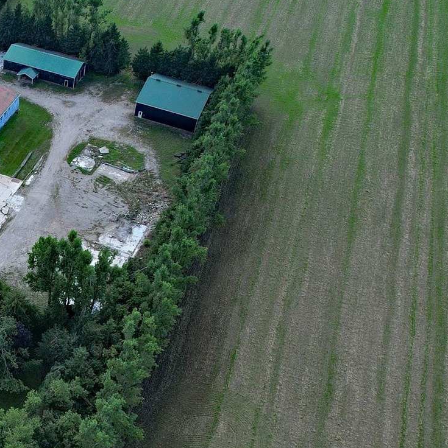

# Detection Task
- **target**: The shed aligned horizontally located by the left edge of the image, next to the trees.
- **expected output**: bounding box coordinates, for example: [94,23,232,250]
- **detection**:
[2,43,89,87]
